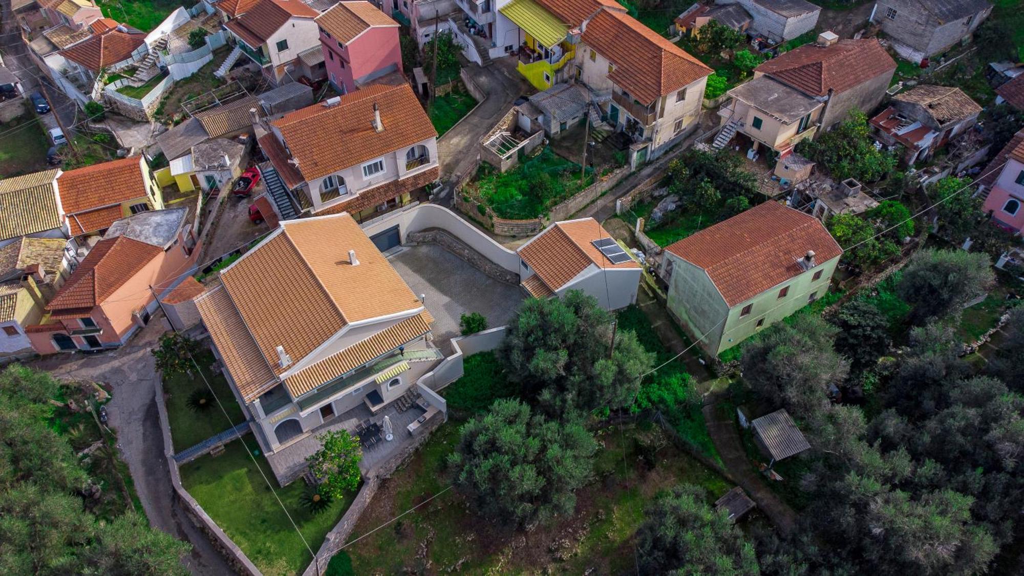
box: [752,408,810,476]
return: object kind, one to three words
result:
shed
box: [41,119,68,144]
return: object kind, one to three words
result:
car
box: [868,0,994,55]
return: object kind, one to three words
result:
building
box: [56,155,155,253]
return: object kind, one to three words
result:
house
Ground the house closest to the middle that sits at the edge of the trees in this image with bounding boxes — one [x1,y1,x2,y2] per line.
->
[516,216,642,324]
